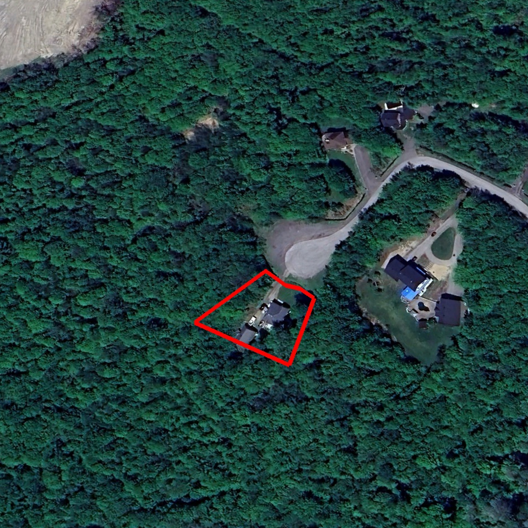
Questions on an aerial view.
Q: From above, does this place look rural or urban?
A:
rural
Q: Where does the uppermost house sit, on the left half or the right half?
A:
right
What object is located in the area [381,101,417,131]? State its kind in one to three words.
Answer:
house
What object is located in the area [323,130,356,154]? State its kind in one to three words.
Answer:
house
